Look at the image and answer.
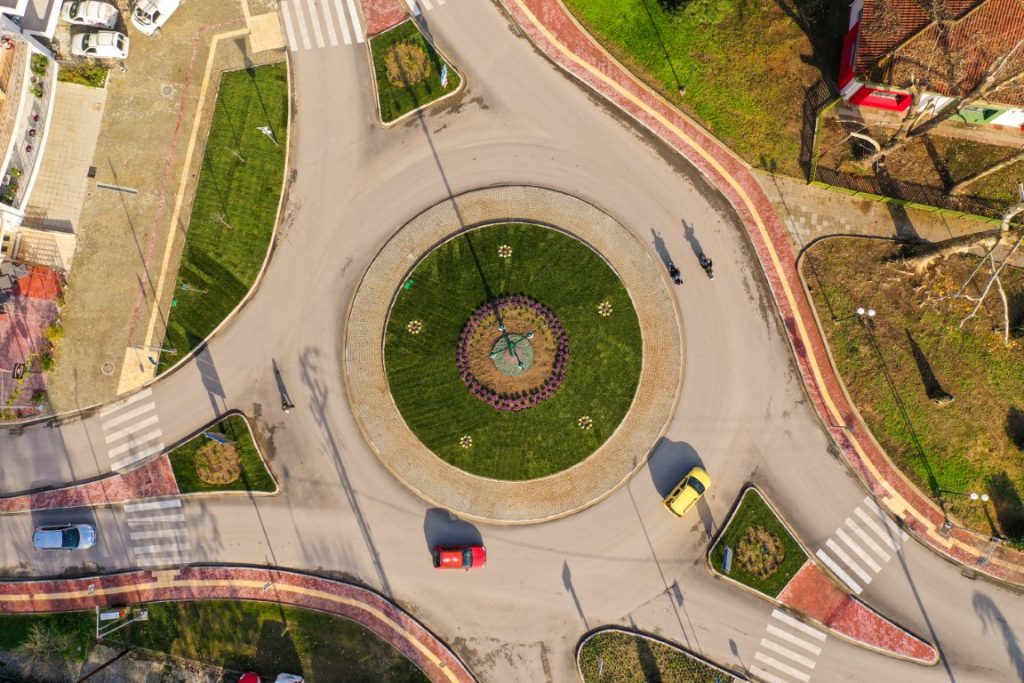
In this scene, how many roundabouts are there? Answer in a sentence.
Only 1 roundabout is visible.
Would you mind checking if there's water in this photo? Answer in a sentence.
No, there's no water in this view.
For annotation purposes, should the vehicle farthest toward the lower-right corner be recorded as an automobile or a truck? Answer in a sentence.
The vehicle farthest toward the lower-right corner is an automobile.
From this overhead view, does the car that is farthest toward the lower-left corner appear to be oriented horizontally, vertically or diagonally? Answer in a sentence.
The car that is farthest toward the lower-left corner has been laid out horizontally relative to the frame.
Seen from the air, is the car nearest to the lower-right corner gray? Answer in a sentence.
No, the color of the car nearest to the lower-right corner is yellow.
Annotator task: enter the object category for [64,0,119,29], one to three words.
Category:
van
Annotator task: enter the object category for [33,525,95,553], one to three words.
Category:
car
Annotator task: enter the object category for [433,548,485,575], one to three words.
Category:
car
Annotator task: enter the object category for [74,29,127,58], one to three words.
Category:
van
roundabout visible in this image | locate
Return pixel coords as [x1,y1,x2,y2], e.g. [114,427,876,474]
[344,186,683,524]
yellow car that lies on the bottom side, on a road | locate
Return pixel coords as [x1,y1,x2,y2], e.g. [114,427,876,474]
[662,468,710,522]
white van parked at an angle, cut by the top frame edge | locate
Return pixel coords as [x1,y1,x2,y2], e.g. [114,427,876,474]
[136,0,189,36]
